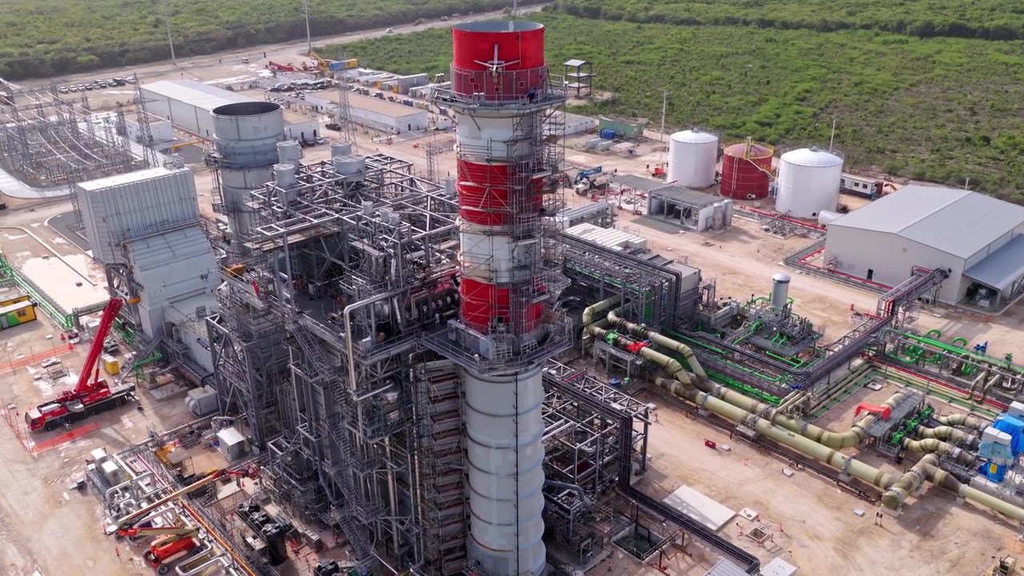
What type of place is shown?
industrial area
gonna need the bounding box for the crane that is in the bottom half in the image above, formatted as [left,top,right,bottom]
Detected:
[15,285,141,427]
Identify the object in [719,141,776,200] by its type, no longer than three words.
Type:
storage tank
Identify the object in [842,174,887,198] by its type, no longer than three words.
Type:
trailer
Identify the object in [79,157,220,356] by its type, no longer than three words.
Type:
house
